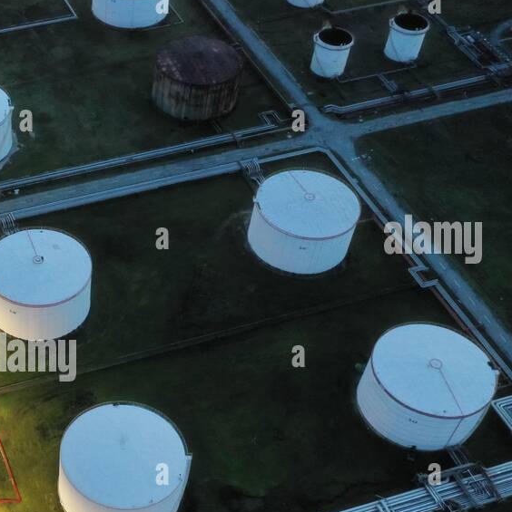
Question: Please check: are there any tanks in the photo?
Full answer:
Yes, a tank can be made out from above.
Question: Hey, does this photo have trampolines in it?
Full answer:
No, I find no trampoline anywhere in the image.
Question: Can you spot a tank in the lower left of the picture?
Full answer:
Yes, a tank is visible in the lower left of the picture.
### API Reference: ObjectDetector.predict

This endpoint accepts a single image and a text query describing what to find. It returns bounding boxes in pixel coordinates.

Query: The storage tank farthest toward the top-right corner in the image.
[379,9,431,64]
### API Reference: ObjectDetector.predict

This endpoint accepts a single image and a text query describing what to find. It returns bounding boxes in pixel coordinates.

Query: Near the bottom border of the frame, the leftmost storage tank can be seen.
[55,398,196,512]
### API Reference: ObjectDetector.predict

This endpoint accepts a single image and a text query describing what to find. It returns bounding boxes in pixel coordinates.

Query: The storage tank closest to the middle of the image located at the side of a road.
[246,166,362,276]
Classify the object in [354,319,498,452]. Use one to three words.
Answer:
storage tank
